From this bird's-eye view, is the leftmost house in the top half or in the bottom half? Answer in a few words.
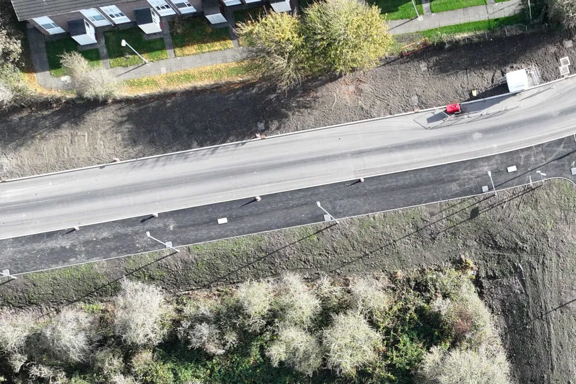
top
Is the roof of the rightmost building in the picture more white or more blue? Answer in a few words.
white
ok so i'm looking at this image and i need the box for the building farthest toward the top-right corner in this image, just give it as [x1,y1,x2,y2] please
[496,68,538,101]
